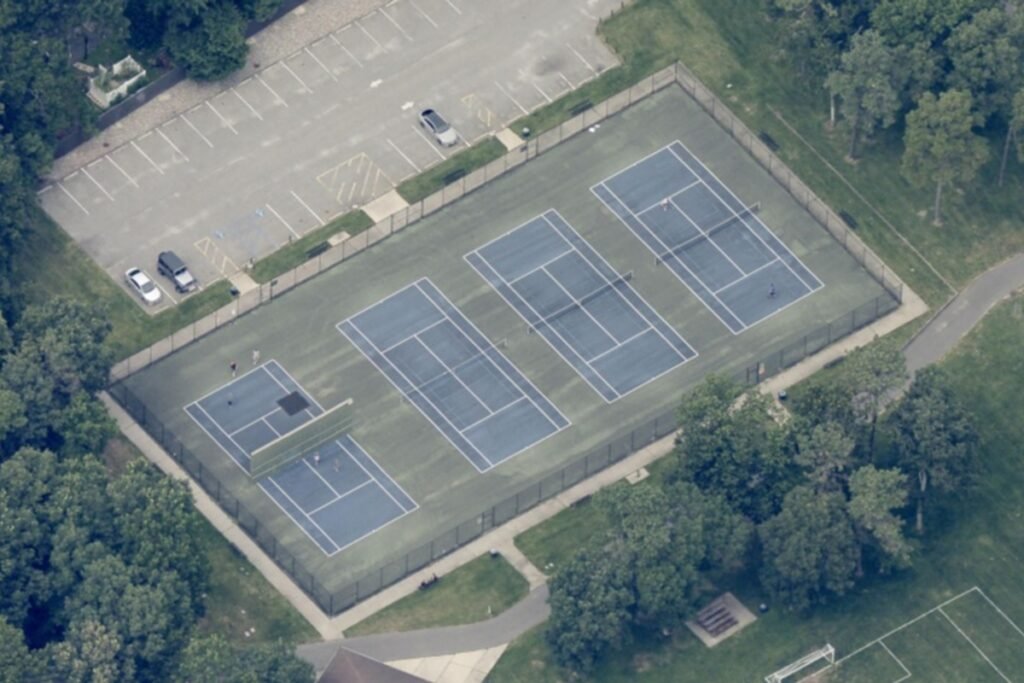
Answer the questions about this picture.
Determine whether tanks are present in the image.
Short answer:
No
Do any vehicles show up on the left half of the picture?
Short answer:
Yes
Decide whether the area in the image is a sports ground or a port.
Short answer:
sports ground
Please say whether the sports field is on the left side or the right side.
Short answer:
right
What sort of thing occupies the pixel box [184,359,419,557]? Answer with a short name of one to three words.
tennis court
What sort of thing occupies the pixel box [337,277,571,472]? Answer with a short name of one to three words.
tennis court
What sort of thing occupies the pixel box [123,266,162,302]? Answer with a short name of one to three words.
car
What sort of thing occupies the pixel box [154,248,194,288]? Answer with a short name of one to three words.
car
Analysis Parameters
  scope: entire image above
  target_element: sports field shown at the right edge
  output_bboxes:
[803,584,1024,683]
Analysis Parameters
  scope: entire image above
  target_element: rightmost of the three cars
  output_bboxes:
[419,106,458,145]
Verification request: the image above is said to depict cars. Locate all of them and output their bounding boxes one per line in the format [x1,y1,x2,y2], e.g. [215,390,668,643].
[154,248,194,288]
[123,266,162,302]
[419,106,458,145]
